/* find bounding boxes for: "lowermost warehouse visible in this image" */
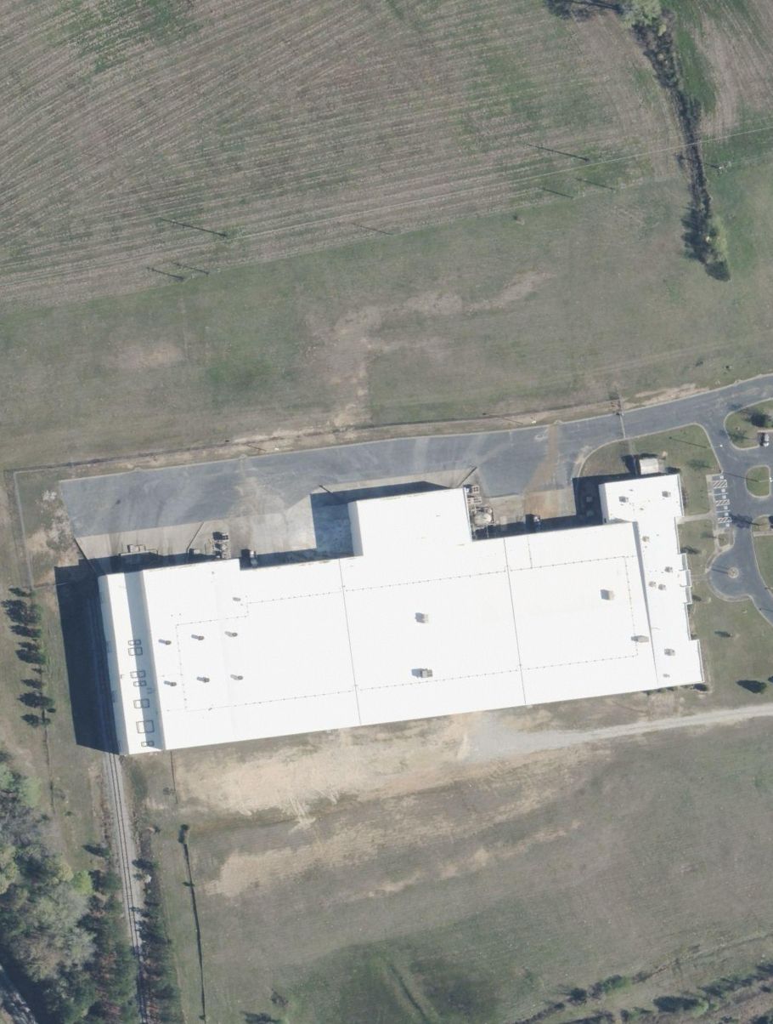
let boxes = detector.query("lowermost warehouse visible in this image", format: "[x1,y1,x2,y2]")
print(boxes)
[98,474,704,755]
